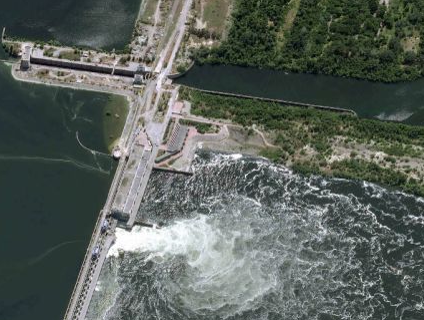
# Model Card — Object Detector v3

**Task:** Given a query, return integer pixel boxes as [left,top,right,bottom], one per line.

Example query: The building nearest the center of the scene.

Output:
[165,124,189,151]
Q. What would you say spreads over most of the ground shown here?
water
